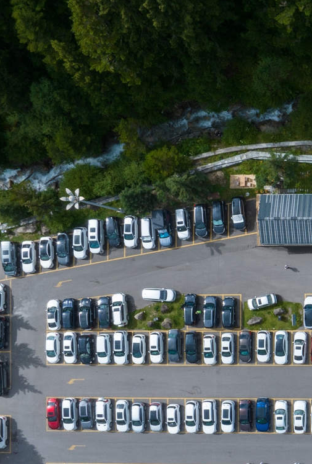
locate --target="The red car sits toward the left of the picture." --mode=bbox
[47,397,63,429]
